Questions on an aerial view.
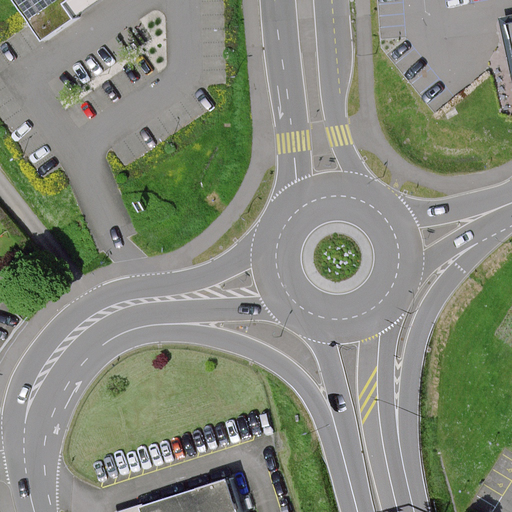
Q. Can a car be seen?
Yes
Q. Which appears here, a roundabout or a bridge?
roundabout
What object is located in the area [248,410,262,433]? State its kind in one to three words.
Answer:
car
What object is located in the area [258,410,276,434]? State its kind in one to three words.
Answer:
vehicle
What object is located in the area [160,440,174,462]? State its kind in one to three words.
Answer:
vehicle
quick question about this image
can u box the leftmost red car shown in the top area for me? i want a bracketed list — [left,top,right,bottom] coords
[81,101,98,119]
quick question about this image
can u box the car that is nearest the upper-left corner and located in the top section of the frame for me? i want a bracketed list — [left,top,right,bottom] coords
[1,41,18,62]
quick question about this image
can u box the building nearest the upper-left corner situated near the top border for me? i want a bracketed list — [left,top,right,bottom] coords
[12,0,77,42]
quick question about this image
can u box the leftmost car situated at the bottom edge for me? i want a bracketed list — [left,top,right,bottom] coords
[18,478,30,499]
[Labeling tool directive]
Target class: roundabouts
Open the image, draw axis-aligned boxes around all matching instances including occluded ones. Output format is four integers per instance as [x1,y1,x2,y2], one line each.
[254,173,422,342]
